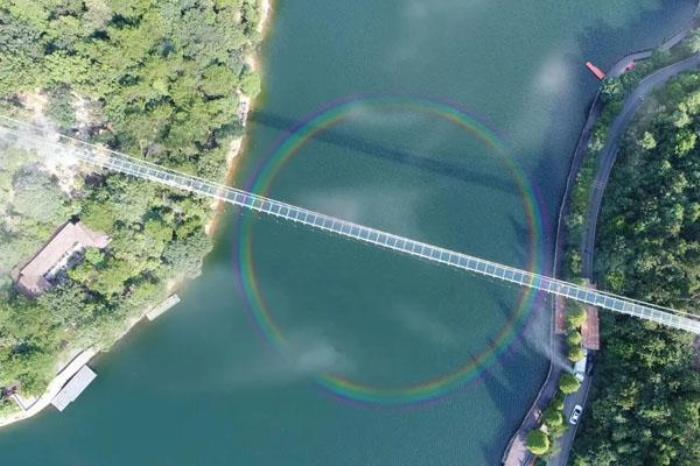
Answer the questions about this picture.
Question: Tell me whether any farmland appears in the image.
No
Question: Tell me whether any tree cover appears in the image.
Yes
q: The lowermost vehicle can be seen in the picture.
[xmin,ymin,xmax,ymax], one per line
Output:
[571,405,584,426]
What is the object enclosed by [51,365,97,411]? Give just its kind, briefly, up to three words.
pier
